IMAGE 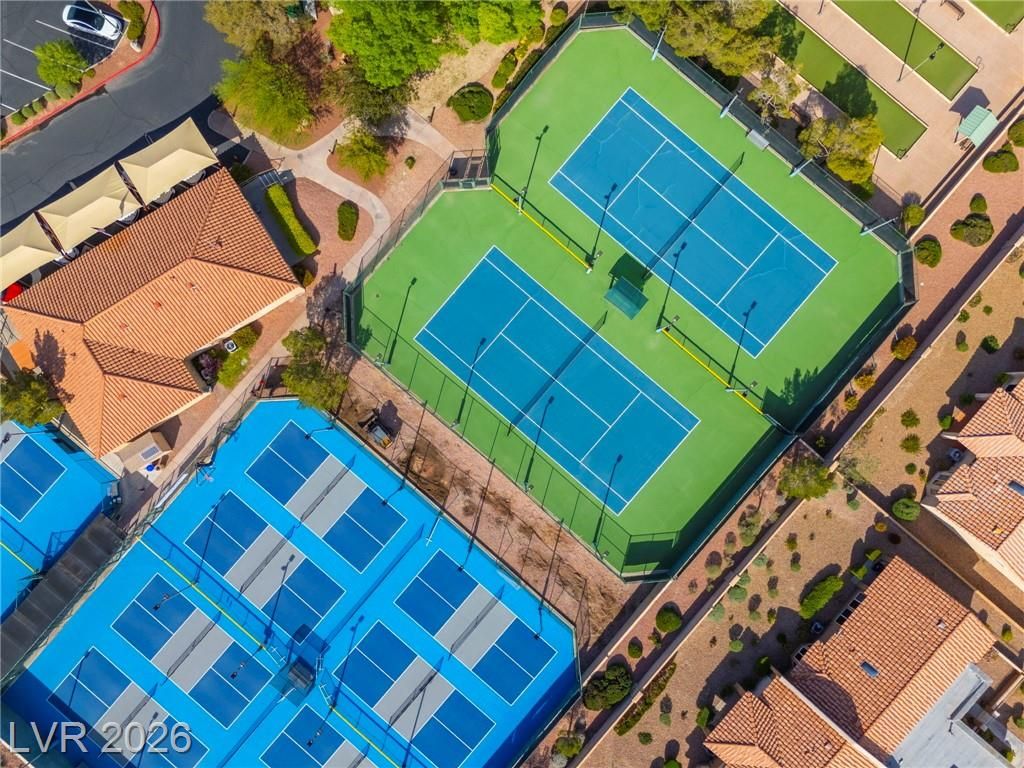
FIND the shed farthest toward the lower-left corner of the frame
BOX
[116,431,184,474]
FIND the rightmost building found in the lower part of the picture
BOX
[922,375,1024,581]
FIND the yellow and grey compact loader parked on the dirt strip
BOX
[359,411,400,453]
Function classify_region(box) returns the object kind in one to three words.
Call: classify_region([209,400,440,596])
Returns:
sports court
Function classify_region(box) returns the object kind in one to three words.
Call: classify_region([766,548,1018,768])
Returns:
house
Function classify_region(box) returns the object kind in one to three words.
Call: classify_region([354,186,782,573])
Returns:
tennis court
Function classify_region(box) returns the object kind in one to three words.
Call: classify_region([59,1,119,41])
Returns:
car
